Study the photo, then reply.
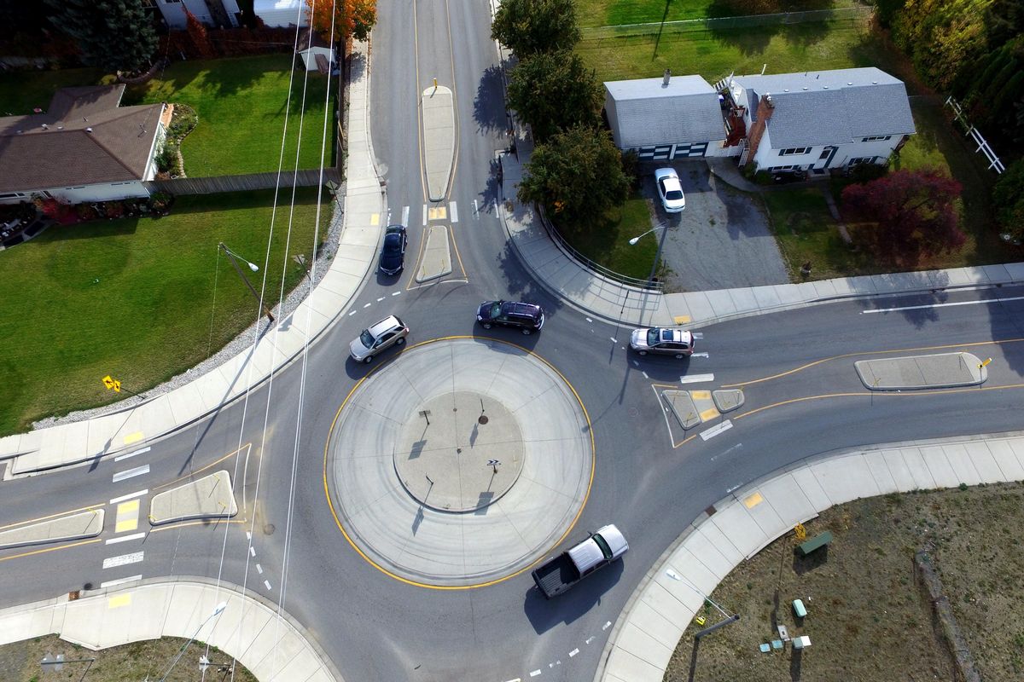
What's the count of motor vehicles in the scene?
6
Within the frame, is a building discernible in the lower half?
No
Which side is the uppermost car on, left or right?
right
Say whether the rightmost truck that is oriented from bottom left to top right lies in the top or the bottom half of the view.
bottom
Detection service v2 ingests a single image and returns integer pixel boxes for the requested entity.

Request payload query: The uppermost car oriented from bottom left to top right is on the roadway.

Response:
[349,315,412,365]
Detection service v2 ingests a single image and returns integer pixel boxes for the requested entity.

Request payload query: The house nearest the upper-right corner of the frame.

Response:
[734,58,916,191]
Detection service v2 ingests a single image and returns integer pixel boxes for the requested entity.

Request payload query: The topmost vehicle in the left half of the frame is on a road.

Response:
[377,229,407,282]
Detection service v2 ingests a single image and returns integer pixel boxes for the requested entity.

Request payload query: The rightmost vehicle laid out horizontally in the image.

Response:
[629,327,696,361]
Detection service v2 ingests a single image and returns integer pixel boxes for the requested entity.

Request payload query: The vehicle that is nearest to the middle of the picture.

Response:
[477,299,546,334]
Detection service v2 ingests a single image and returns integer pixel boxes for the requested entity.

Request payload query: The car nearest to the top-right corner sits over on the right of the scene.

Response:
[652,170,686,218]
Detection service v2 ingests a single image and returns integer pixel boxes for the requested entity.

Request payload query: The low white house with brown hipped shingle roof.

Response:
[0,83,170,207]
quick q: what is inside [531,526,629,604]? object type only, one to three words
truck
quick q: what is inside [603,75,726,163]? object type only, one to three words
building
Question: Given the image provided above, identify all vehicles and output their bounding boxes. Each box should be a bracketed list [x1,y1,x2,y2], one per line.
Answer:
[349,315,412,365]
[652,170,686,218]
[477,299,546,334]
[629,327,696,361]
[377,229,407,282]
[531,526,629,604]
